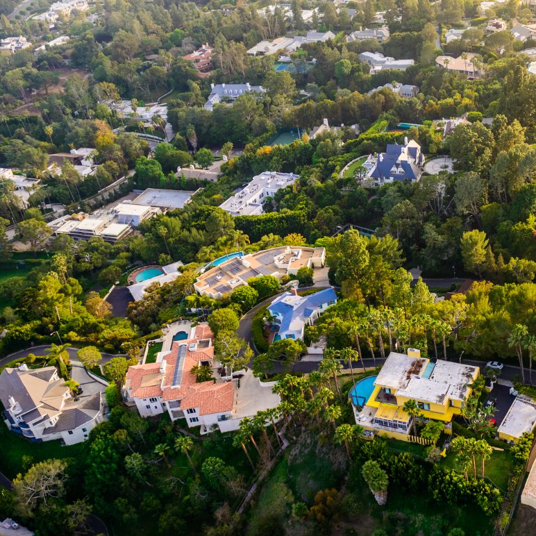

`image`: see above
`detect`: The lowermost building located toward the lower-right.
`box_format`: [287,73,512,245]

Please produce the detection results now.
[497,398,536,453]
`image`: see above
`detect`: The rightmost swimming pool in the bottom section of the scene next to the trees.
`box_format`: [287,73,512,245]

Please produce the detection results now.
[349,374,378,406]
